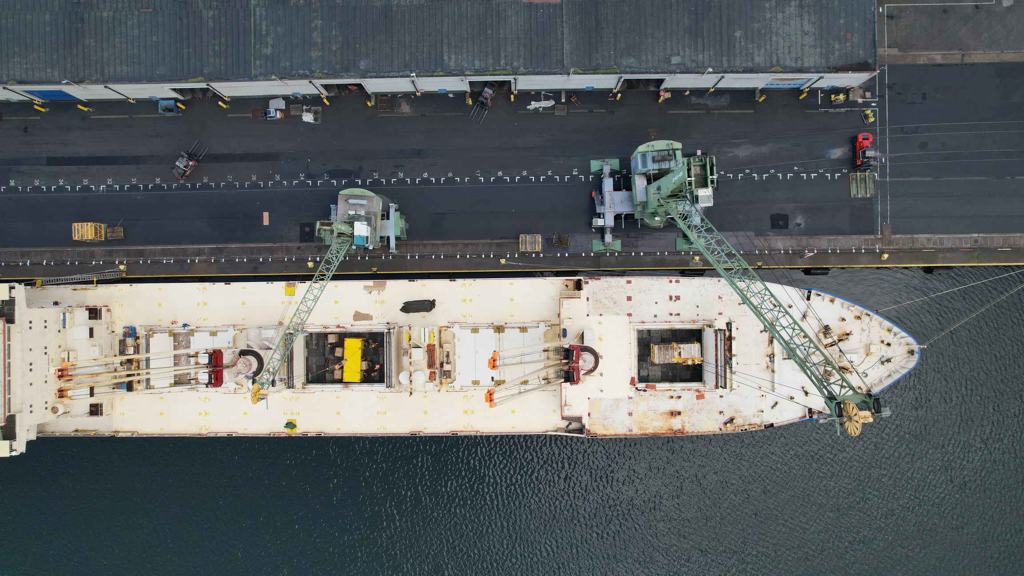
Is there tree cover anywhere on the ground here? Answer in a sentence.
No, the picture contains no tree cover.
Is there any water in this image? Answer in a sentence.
Yes, the picture does contain water.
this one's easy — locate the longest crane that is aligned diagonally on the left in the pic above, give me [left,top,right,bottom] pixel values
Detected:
[244,188,407,409]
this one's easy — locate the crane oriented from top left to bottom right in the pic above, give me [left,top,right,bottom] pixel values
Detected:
[590,141,897,437]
